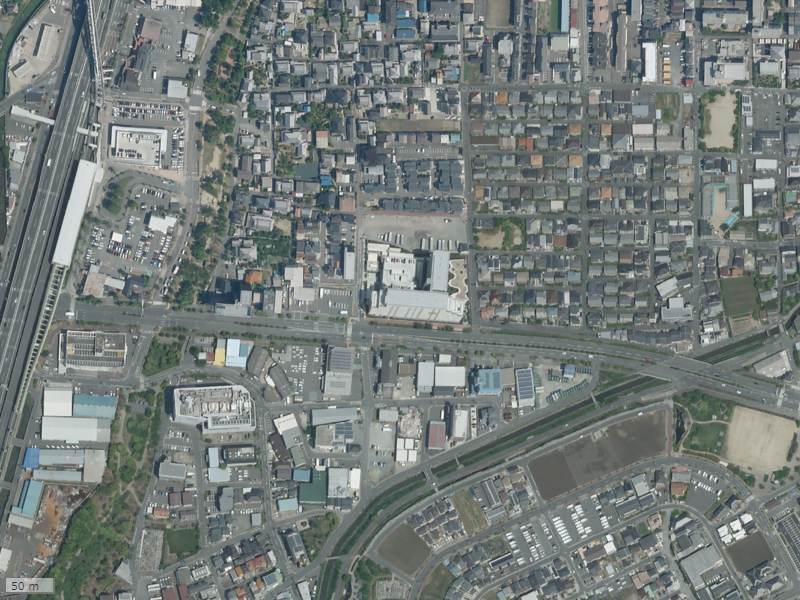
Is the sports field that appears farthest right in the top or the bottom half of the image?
bottom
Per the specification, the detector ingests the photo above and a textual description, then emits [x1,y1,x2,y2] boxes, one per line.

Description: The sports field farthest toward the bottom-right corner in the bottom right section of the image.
[724,406,796,471]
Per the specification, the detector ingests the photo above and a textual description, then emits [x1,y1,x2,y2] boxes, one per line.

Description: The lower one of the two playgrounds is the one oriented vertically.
[711,188,733,247]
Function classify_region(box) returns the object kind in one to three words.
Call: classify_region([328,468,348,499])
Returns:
building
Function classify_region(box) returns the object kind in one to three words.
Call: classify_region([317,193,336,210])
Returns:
house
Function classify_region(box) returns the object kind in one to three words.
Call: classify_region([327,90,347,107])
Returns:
house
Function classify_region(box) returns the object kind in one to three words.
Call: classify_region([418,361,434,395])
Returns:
building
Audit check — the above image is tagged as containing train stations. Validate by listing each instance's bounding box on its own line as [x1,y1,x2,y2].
[50,159,103,267]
